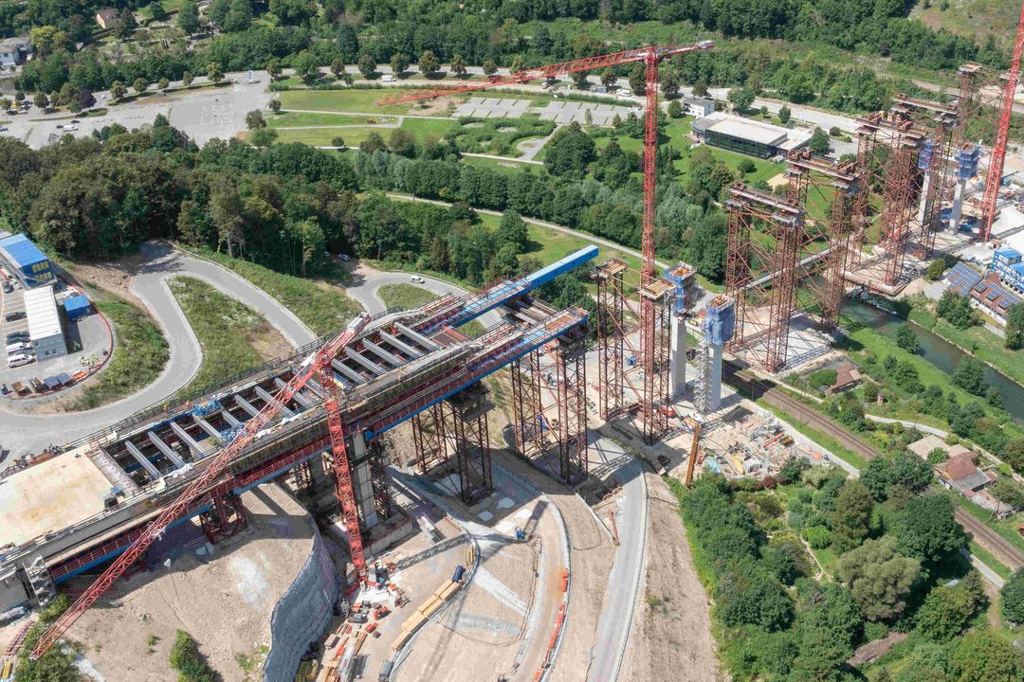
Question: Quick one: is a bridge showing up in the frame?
Yes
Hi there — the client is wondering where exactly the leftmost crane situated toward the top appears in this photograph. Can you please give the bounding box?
[381,40,715,425]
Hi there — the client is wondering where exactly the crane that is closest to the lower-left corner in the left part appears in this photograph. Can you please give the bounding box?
[27,310,375,661]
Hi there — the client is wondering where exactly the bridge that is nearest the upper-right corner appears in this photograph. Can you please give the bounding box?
[844,256,952,303]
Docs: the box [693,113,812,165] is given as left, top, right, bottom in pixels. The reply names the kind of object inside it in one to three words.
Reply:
building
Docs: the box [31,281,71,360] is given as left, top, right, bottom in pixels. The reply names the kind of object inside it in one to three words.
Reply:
building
